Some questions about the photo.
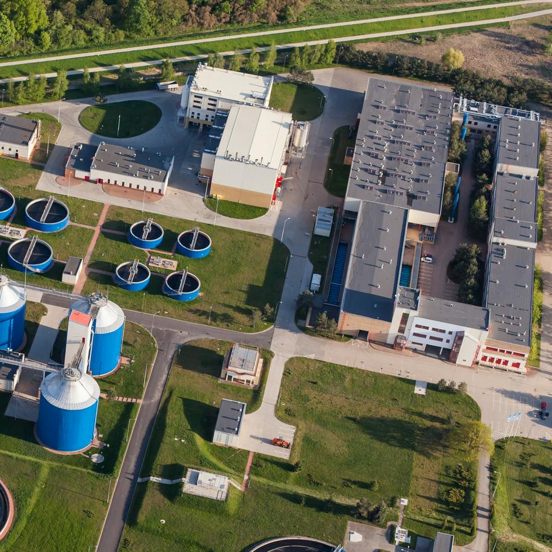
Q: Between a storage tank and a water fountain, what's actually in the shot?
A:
storage tank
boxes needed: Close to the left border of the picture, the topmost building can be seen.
[0,114,41,159]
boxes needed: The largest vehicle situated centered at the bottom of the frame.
[273,437,293,451]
